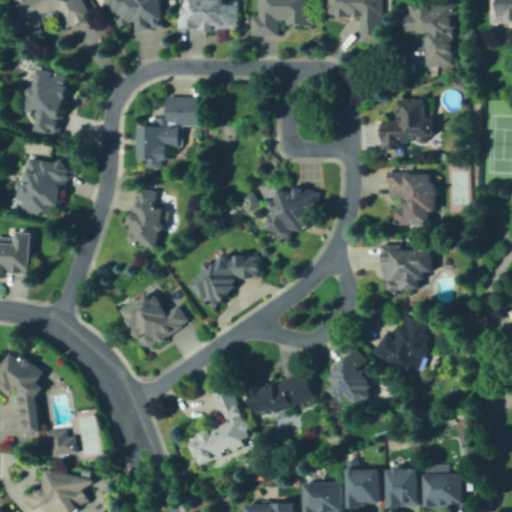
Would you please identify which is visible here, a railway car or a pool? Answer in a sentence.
It is a pool that can be seen here.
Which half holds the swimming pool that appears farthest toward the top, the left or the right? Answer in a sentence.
It is on the right.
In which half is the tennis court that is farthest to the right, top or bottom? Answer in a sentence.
You can find the tennis court that is farthest to the right in the top half.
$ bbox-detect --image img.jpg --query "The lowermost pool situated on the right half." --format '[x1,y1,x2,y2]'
[437,270,456,304]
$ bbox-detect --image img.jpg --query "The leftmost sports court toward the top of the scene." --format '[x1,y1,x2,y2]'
[450,165,472,214]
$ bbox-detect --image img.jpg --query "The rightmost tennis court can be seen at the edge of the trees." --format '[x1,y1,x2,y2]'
[486,100,512,183]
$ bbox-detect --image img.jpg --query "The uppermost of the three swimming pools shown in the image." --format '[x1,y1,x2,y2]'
[438,88,462,116]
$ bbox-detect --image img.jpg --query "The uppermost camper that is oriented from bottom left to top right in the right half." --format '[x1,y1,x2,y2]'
[342,33,355,51]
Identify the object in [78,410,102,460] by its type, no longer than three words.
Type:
sports court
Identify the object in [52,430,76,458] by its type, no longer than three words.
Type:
building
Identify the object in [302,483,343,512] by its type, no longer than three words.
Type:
house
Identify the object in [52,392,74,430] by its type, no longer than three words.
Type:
swimming pool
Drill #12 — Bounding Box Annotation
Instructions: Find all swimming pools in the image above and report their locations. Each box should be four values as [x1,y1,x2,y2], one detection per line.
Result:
[437,270,456,304]
[438,88,462,116]
[52,392,74,430]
